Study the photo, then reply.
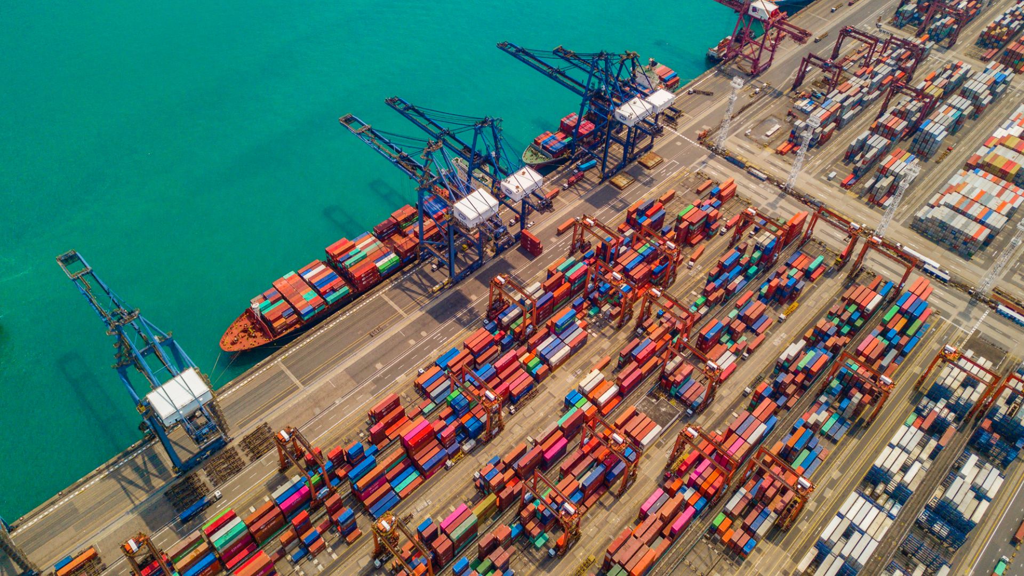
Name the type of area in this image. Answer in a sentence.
The area seen from above is a port.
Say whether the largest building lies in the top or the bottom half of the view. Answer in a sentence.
The largest building is in the bottom half of the image.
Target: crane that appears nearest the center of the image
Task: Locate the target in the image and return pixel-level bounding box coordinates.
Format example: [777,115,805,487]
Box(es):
[487,273,540,343]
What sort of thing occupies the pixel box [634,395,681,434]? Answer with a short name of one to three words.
building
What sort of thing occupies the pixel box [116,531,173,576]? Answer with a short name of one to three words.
crane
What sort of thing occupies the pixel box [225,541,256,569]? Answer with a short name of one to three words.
shipping container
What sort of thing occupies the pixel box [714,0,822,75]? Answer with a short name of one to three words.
container crane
